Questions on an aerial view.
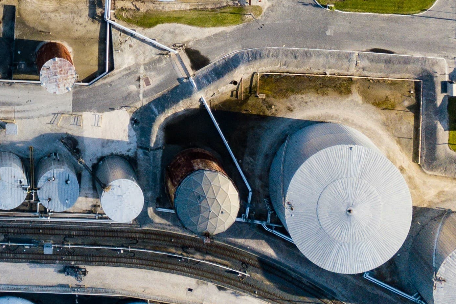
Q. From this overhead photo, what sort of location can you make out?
industrial area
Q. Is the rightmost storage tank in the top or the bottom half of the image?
bottom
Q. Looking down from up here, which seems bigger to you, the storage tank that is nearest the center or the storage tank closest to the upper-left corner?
the storage tank that is nearest the center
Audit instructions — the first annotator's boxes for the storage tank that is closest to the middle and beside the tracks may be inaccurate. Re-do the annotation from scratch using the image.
[163,147,241,243]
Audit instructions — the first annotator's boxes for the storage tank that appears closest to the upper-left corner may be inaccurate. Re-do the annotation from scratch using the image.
[35,41,77,95]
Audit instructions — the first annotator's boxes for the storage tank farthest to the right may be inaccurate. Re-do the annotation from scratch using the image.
[406,208,456,304]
